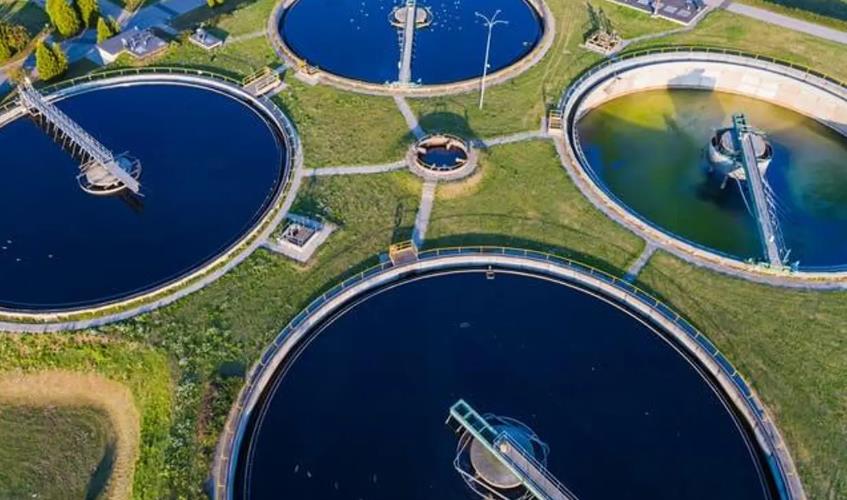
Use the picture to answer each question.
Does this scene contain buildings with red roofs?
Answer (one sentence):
No, the frame has no building with a red roof in it.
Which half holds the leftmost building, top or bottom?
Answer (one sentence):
The leftmost building sits in the top half of the picture.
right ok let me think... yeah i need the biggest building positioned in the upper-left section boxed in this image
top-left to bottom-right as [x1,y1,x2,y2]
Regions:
[96,26,173,66]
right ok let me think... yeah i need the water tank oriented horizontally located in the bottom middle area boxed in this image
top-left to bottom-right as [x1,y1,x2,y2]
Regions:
[217,243,800,500]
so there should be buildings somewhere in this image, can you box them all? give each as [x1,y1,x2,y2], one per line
[603,0,709,26]
[189,31,225,54]
[96,26,173,66]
